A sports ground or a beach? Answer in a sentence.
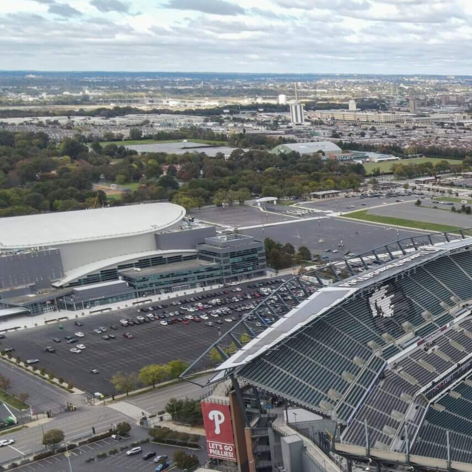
This looks like a sports ground.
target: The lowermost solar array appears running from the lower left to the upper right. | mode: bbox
[227,292,343,363]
